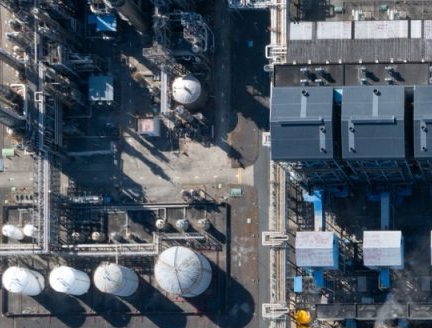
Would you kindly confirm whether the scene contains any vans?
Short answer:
No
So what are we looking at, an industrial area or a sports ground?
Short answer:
industrial area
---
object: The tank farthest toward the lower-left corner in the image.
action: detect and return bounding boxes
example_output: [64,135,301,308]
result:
[0,267,44,297]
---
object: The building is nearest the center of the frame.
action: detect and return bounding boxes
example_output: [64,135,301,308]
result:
[138,118,166,141]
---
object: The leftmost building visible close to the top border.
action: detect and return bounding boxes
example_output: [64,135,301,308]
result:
[88,15,131,44]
